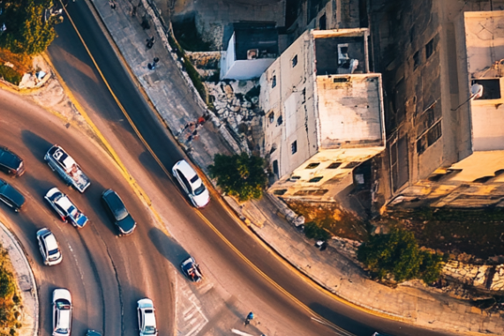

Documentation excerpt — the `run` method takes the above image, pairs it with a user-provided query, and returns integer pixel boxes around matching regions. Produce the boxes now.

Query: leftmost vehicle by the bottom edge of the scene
[49,289,76,336]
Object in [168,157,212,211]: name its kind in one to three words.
car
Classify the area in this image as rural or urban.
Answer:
urban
